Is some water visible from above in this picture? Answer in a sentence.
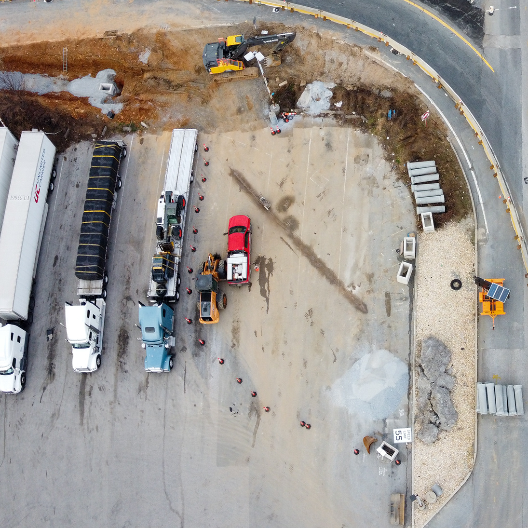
No, the picture contains no water.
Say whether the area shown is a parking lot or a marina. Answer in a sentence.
This looks like a parking lot.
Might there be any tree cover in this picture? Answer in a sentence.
No, there's no tree cover in this view.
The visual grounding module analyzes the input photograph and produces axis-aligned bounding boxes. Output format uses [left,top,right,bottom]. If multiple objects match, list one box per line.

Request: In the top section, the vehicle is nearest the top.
[191,37,287,92]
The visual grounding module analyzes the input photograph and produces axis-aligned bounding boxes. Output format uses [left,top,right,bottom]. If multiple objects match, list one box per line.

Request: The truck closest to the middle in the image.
[223,216,253,289]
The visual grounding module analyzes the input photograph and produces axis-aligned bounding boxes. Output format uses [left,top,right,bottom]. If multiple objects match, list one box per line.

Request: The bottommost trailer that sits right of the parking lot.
[469,263,515,332]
